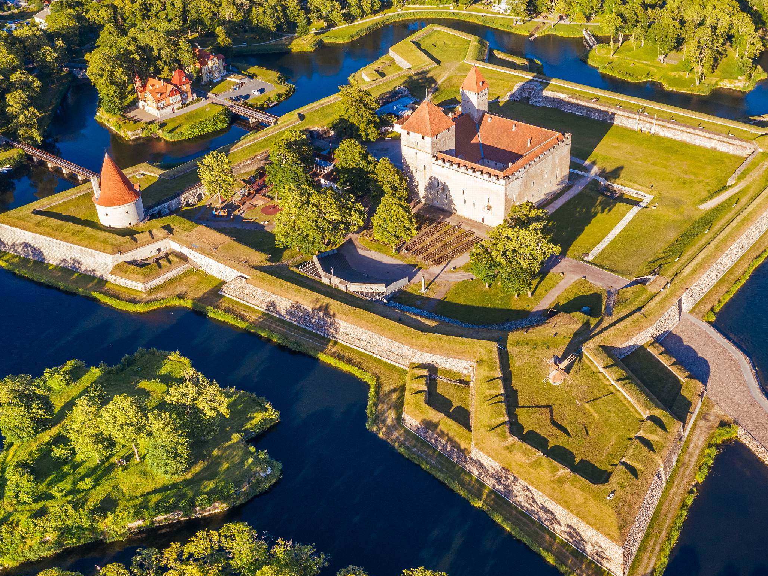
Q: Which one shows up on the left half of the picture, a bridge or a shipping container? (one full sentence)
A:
There is a bridge on the left half of the picture.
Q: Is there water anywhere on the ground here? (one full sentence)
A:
Yes, there's water in this view.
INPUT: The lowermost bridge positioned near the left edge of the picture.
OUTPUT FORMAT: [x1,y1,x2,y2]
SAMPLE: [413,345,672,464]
[1,137,100,184]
